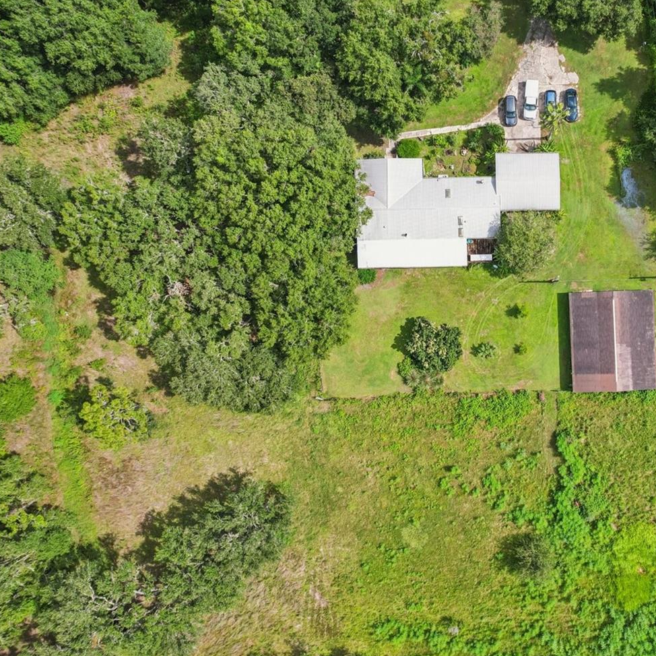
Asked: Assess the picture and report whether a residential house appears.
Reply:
Yes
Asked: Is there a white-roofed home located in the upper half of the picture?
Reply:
Yes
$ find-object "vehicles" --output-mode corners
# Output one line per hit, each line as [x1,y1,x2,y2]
[523,78,539,121]
[503,95,518,127]
[544,92,558,122]
[565,88,579,123]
